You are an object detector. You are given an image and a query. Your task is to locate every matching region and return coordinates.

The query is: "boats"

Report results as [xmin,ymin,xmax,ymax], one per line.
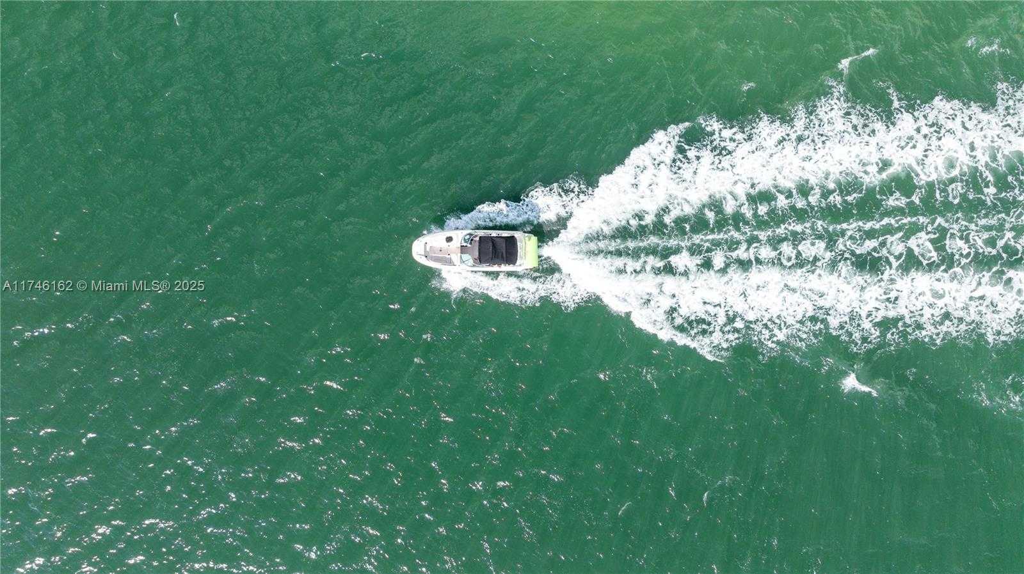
[412,230,538,272]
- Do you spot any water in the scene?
Yes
